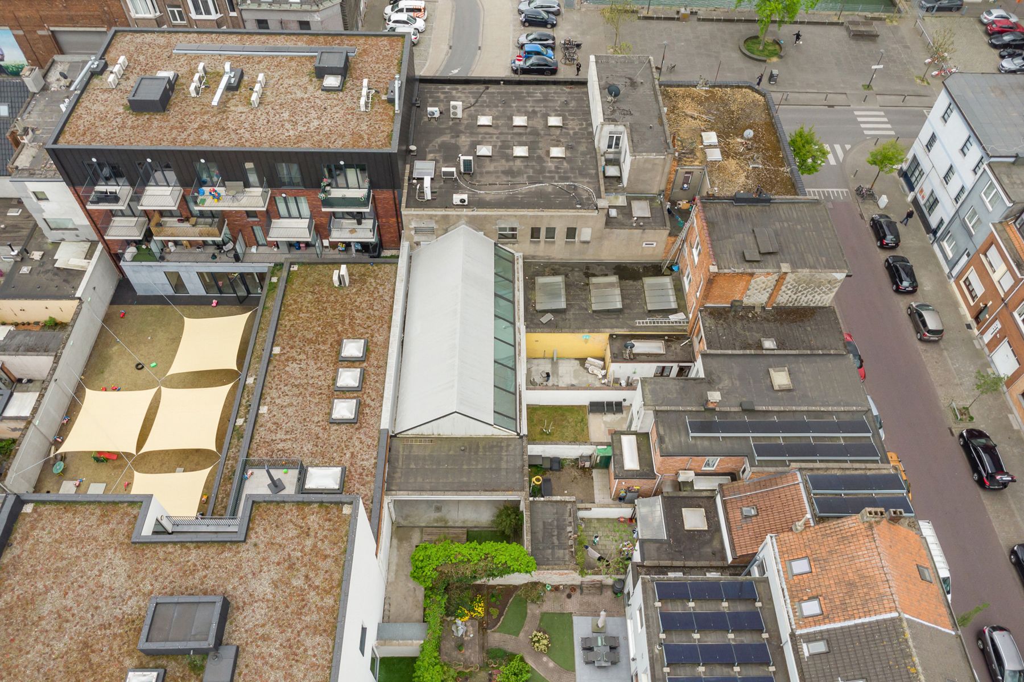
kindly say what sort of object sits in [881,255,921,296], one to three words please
car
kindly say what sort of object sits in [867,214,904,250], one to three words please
car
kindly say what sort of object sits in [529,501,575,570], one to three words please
shed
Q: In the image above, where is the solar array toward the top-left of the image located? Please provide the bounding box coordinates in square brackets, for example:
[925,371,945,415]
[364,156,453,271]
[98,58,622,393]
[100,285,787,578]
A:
[170,43,359,59]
